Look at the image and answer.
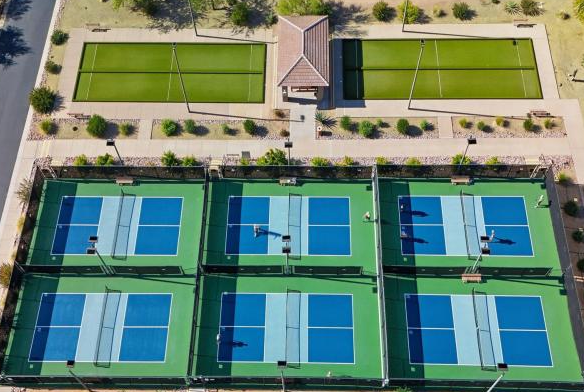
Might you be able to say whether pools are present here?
No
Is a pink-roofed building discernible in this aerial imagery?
No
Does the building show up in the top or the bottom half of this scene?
top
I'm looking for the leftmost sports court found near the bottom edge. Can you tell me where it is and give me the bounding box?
[0,273,200,390]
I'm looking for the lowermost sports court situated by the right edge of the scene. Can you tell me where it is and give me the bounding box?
[376,275,584,392]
